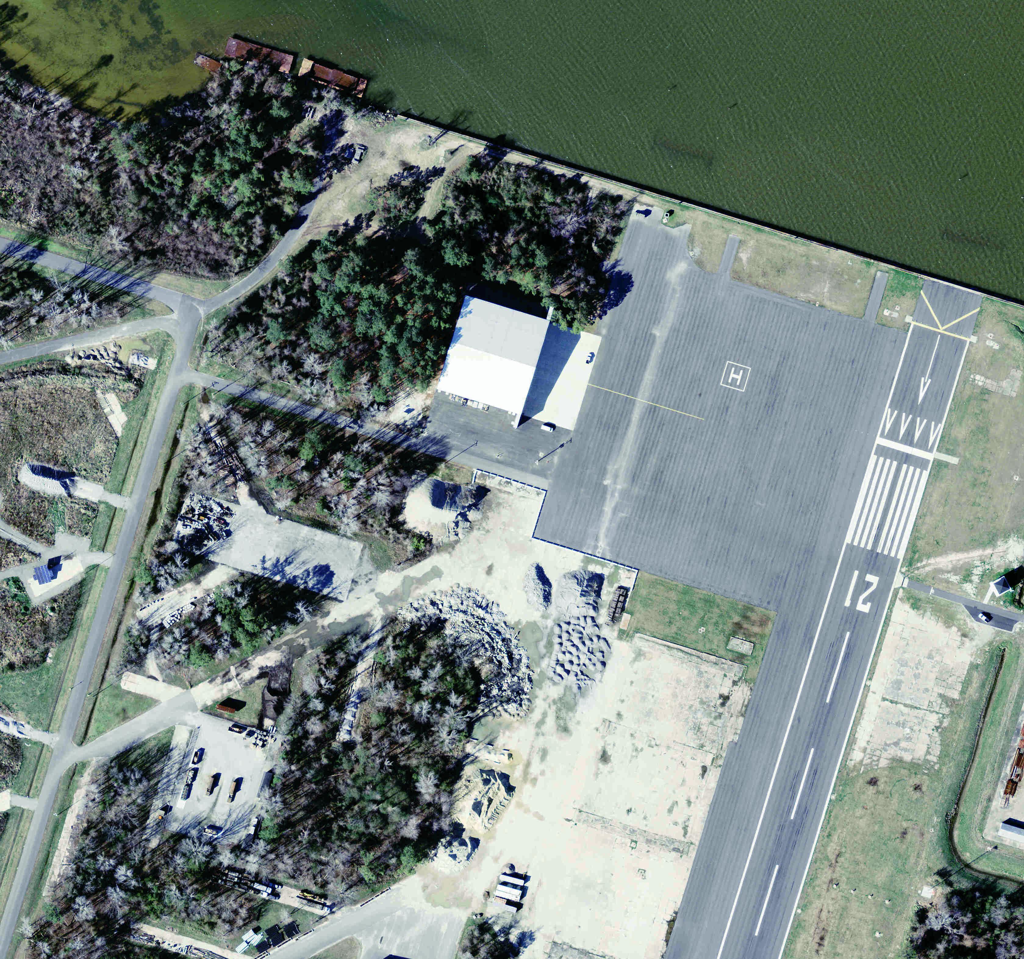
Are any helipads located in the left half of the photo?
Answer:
No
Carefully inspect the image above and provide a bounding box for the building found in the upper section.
[437,295,553,428]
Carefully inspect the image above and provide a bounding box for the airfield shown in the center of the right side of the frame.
[534,204,982,959]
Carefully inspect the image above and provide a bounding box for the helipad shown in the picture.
[721,361,751,391]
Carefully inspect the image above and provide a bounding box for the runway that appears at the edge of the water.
[719,280,982,959]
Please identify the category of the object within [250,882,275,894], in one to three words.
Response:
vehicle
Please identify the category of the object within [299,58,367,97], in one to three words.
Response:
ship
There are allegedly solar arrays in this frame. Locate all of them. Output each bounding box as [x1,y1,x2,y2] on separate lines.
[32,565,53,585]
